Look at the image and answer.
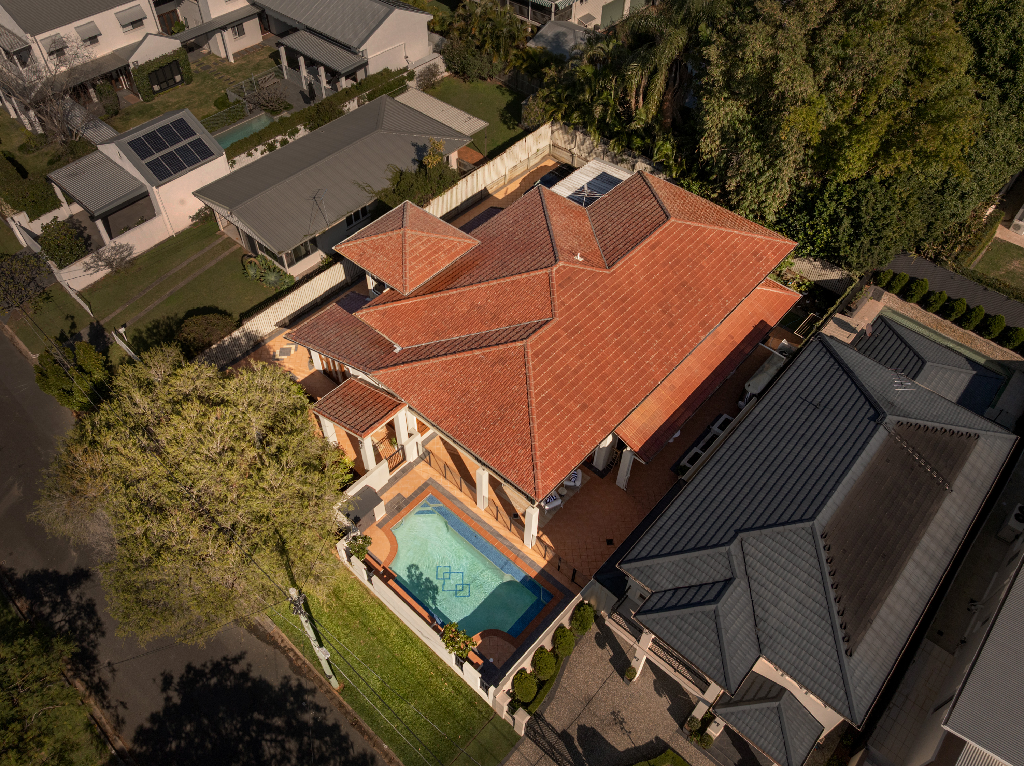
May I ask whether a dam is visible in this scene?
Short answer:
No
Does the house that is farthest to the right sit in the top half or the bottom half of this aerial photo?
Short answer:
bottom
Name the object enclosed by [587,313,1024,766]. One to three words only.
house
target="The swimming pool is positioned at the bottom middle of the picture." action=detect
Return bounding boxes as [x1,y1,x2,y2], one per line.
[380,485,565,663]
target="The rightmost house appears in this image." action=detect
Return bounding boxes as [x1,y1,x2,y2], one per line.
[899,519,1024,766]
